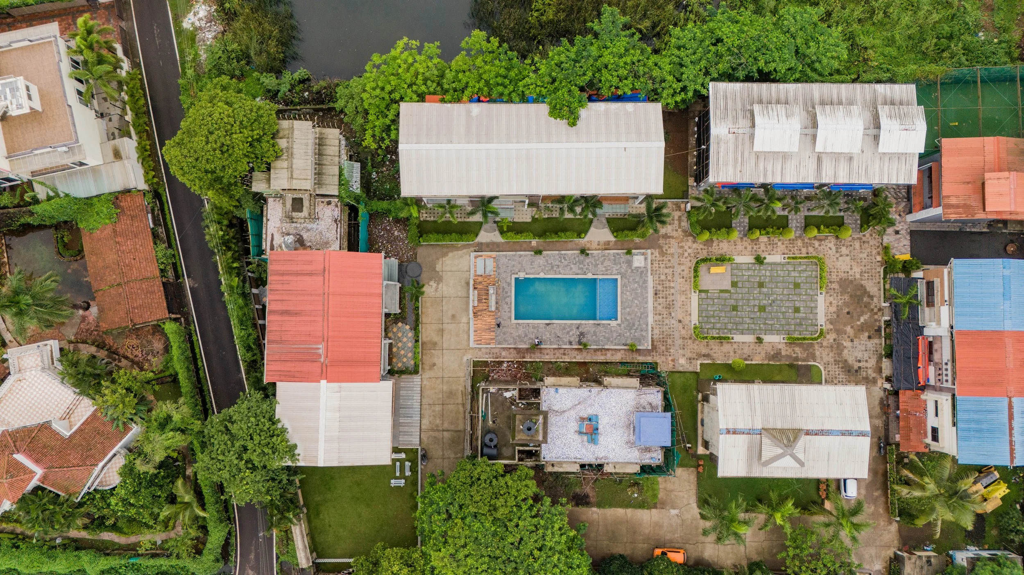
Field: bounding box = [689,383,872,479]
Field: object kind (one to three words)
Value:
house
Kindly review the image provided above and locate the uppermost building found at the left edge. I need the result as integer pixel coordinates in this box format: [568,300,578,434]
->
[0,22,158,198]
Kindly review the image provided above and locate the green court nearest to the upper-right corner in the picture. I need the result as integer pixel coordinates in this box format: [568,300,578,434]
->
[903,64,1024,147]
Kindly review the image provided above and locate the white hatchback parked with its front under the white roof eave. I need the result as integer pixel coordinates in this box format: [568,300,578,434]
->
[840,479,861,501]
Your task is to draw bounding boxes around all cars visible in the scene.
[654,548,689,567]
[840,479,861,501]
